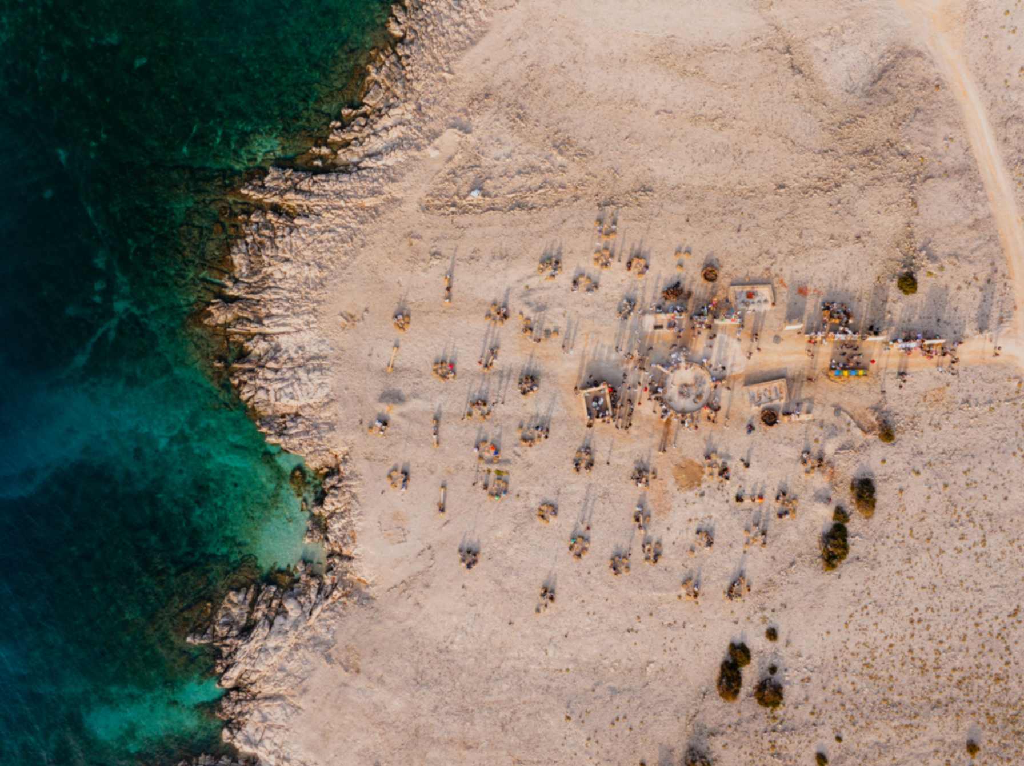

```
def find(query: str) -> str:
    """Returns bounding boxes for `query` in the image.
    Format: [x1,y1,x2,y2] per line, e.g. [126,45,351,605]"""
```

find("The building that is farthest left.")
[581,382,614,422]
